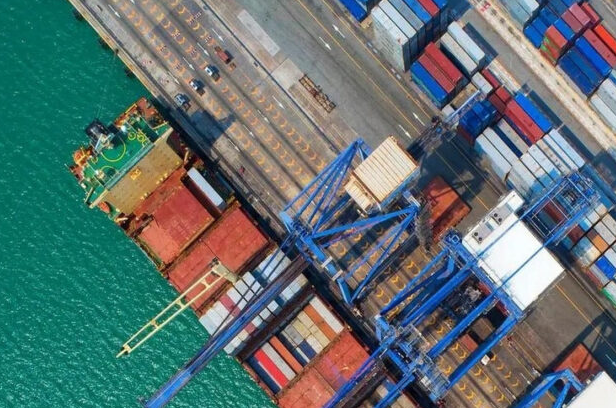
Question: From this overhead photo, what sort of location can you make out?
port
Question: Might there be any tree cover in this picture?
No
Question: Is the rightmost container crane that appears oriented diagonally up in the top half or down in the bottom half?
bottom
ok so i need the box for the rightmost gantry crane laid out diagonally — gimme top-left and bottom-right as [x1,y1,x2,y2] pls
[327,167,616,408]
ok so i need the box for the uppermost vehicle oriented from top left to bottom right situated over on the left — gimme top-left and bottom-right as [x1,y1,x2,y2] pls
[210,39,230,61]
